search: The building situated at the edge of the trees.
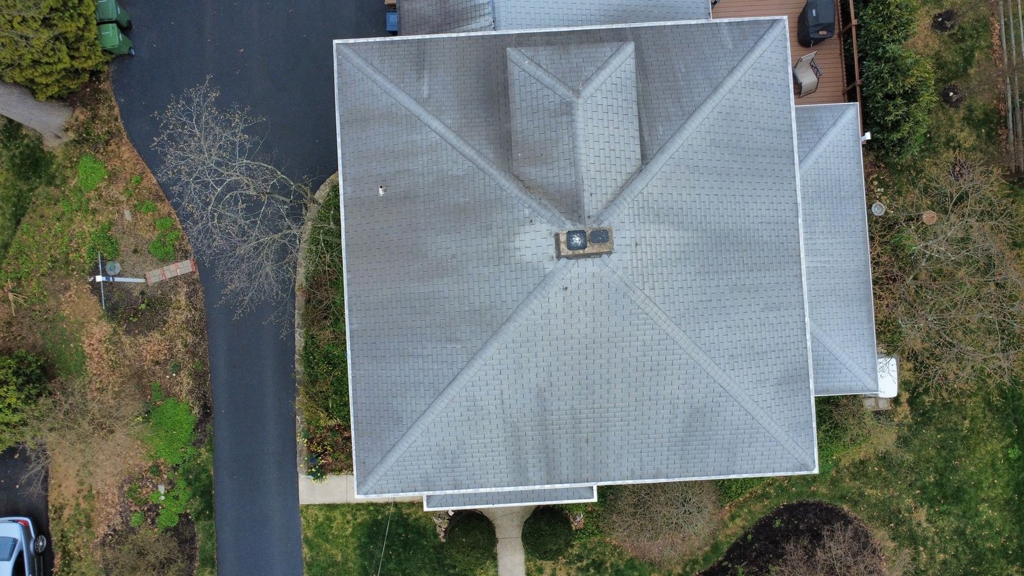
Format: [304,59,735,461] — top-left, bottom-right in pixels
[335,0,878,510]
